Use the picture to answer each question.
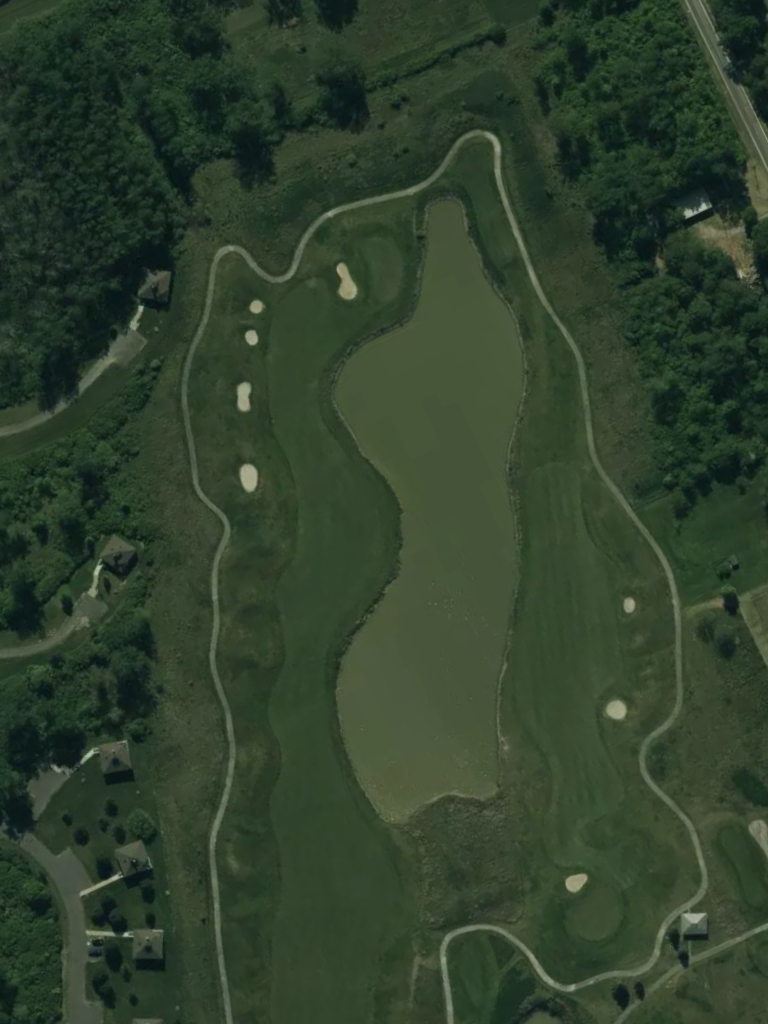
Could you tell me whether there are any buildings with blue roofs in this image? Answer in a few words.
No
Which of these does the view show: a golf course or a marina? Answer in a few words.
golf course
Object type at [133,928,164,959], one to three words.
building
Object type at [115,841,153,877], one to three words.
building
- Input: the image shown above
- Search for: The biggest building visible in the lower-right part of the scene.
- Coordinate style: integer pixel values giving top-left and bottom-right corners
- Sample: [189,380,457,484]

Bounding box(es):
[681,913,707,934]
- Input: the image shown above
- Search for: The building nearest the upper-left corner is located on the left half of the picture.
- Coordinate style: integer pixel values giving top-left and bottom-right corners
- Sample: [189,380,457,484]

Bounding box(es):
[138,269,171,301]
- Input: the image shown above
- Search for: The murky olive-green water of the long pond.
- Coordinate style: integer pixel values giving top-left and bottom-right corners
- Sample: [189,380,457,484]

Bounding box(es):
[336,200,524,821]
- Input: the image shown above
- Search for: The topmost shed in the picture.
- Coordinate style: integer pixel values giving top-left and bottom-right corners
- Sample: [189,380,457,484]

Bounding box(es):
[676,186,712,219]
